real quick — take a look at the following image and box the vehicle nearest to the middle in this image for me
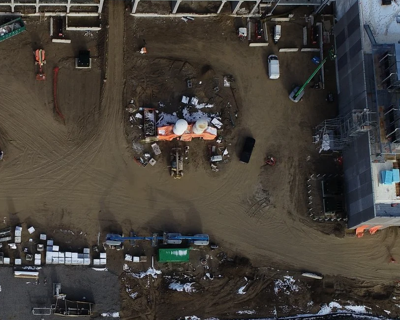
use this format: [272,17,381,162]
[171,140,184,176]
